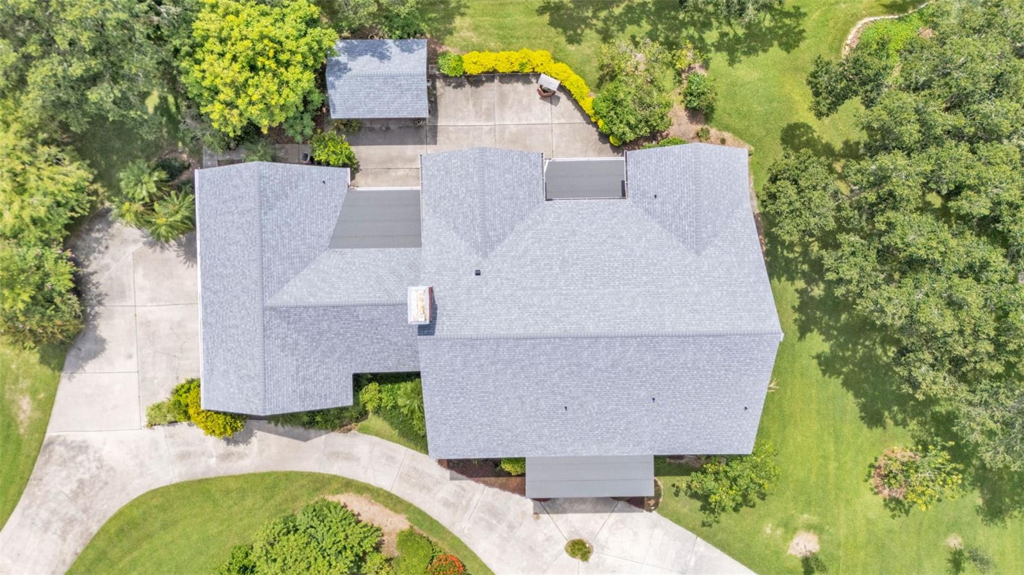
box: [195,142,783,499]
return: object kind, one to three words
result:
house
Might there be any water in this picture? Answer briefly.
No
